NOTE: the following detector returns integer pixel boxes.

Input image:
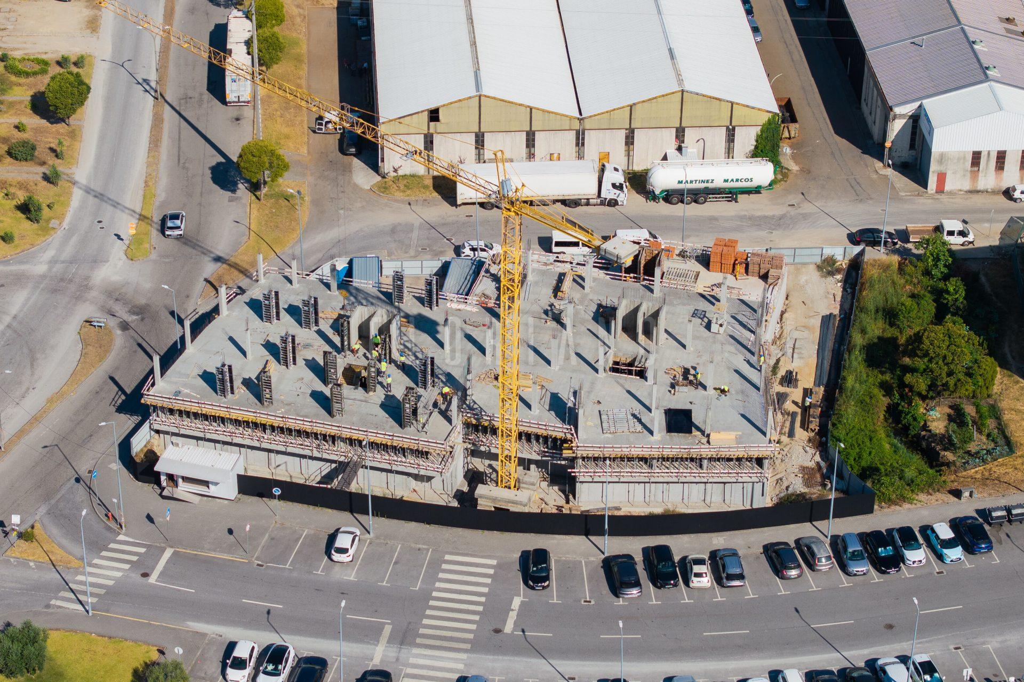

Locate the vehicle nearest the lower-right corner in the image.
[910,653,948,682]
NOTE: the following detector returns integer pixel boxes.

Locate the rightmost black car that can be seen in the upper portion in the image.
[852,225,899,248]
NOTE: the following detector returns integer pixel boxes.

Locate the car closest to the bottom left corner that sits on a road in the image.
[225,642,256,682]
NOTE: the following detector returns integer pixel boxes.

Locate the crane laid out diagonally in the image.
[96,0,640,490]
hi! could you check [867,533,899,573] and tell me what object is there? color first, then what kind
black car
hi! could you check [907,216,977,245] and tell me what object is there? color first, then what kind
white truck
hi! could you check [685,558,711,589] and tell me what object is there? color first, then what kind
white car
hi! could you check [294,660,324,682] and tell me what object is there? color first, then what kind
black car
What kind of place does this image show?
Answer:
industrial area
